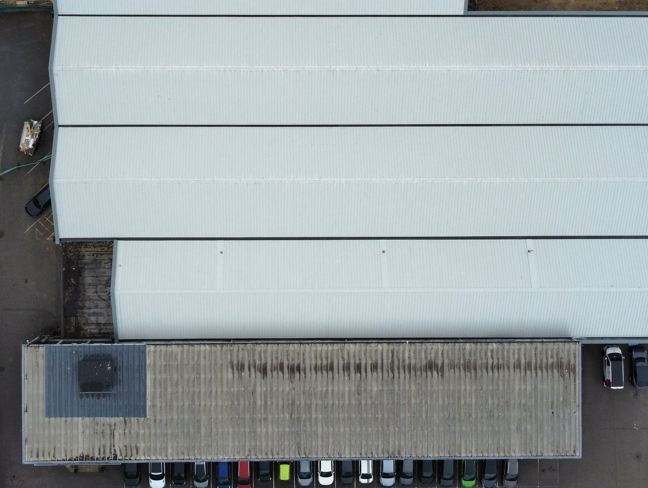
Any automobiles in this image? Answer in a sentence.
Yes, there's an automobile down there.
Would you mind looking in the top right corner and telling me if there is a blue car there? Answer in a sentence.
No, I can find no blue car in the top right corner.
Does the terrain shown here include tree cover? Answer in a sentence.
No, the scene doesn't show any tree cover.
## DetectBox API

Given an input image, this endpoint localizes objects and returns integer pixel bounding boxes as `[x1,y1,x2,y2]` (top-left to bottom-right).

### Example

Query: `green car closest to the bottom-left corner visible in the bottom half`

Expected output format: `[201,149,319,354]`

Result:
[276,464,293,483]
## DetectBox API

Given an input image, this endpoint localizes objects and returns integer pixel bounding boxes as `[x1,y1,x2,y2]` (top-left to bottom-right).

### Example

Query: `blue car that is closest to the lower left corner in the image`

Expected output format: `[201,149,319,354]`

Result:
[213,464,233,488]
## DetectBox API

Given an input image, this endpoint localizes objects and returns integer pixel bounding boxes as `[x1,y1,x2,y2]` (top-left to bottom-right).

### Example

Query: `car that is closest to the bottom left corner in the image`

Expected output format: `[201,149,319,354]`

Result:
[122,464,142,487]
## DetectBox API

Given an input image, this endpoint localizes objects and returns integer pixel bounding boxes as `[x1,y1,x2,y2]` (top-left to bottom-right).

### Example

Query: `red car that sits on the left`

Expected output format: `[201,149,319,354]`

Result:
[234,464,252,488]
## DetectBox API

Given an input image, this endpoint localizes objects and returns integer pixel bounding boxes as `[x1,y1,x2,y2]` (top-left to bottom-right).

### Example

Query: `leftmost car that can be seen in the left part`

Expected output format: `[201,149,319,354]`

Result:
[25,184,51,216]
